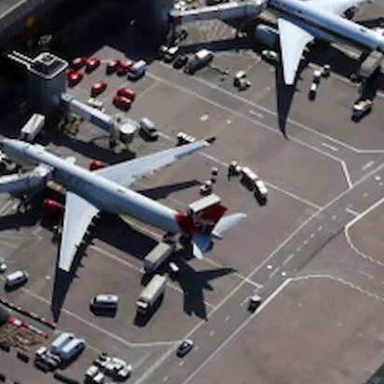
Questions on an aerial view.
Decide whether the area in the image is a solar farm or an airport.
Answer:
airport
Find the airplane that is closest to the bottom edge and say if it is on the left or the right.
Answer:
left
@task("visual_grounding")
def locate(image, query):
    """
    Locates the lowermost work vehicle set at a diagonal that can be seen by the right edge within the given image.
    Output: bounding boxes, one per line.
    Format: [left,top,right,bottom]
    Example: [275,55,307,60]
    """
[348,99,376,122]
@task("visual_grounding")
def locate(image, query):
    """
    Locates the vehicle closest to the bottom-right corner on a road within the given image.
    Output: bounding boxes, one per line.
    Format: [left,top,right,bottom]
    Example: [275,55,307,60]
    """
[248,296,261,308]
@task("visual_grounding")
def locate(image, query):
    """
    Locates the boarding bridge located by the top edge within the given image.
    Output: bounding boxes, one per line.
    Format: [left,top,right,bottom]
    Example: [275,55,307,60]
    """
[165,0,272,41]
